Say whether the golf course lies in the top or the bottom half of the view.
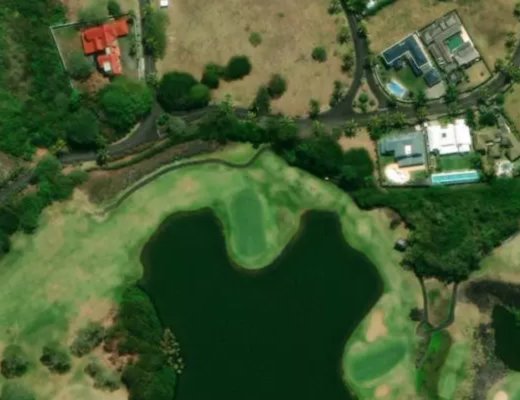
bottom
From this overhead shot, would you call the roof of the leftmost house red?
Yes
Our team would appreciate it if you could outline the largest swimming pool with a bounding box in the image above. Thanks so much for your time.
[431,169,480,185]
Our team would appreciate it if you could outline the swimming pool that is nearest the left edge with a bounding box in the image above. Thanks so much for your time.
[386,80,407,98]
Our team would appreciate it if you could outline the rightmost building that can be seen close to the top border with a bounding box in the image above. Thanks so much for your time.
[419,13,481,71]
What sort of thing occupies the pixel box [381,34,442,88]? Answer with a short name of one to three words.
house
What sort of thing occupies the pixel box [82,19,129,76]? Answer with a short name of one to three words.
house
